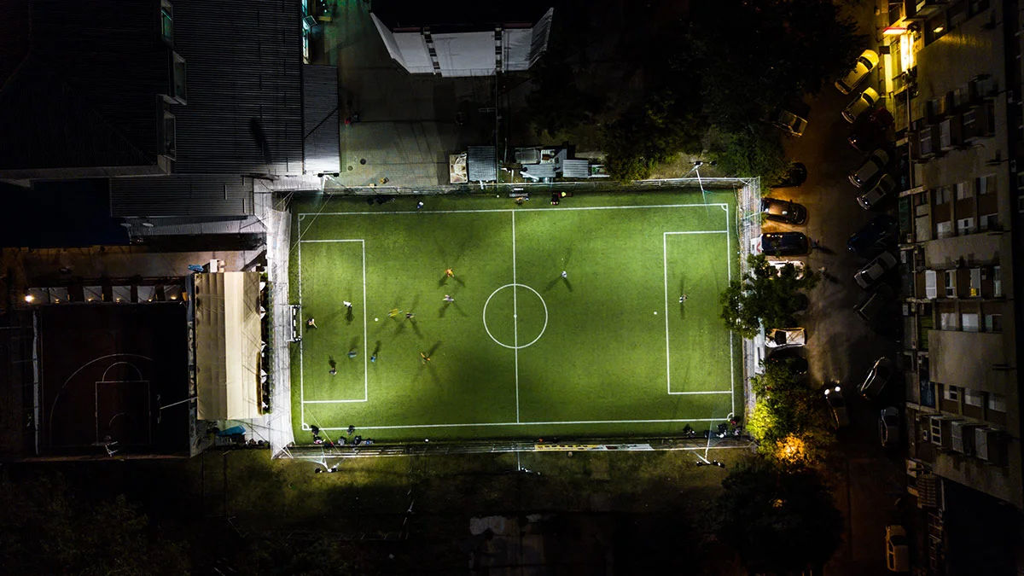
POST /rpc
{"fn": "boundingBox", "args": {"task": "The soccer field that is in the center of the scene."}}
[292,191,742,445]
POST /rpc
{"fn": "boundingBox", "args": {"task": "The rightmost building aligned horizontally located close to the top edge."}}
[371,0,553,76]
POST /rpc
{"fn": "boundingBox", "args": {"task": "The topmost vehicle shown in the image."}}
[836,52,876,92]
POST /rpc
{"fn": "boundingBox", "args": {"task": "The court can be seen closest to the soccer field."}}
[39,306,184,455]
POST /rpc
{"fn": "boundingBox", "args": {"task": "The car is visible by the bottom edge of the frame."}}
[884,524,910,574]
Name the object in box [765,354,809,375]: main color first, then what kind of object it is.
black car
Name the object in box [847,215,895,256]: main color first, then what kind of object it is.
black car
